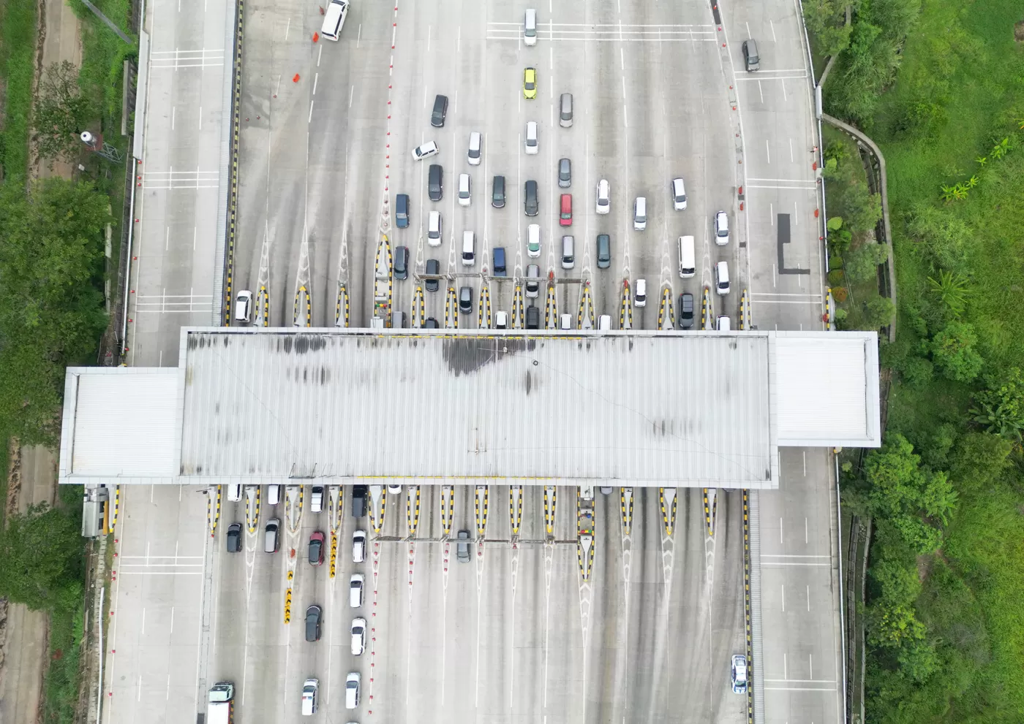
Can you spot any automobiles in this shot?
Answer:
Yes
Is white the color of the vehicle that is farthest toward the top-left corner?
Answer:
Yes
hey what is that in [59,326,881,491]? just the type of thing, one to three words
toll station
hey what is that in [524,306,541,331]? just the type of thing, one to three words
car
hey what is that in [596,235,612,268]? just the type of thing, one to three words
car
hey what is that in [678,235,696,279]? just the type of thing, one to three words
vehicle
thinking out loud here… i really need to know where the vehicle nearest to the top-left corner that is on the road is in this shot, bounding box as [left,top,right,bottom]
[321,0,349,42]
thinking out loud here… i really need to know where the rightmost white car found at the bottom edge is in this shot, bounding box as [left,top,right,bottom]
[730,655,749,693]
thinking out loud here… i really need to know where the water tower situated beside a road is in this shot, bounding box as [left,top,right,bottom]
[82,131,129,168]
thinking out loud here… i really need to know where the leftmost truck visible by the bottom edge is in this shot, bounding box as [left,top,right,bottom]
[209,681,235,724]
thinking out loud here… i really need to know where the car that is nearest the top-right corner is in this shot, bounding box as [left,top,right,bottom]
[741,40,760,72]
